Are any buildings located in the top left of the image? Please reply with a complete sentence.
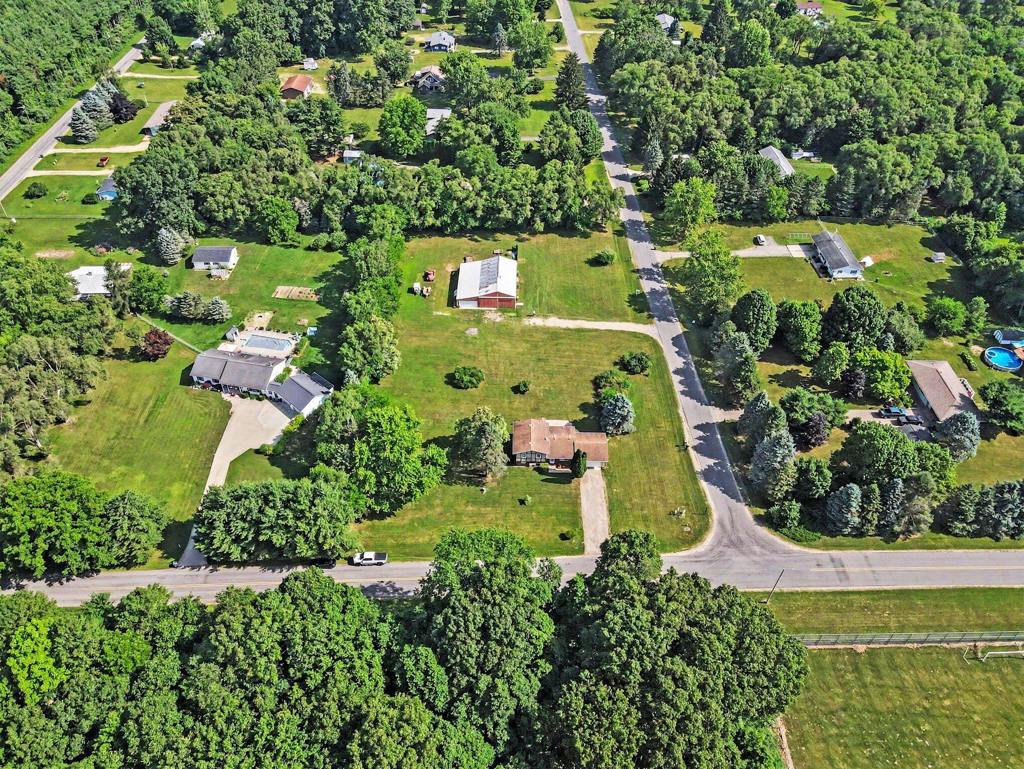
Yes, a building appears in the top left of the image.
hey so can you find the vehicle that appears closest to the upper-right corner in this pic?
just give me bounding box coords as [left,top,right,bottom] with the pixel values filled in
[789,146,811,160]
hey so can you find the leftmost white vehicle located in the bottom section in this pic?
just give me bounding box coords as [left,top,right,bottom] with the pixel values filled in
[352,550,388,565]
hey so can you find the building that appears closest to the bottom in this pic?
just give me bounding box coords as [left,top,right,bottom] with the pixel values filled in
[512,419,609,475]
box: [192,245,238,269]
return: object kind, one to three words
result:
building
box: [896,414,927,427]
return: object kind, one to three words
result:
vehicle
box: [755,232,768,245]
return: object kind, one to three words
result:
vehicle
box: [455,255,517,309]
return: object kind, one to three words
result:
barn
